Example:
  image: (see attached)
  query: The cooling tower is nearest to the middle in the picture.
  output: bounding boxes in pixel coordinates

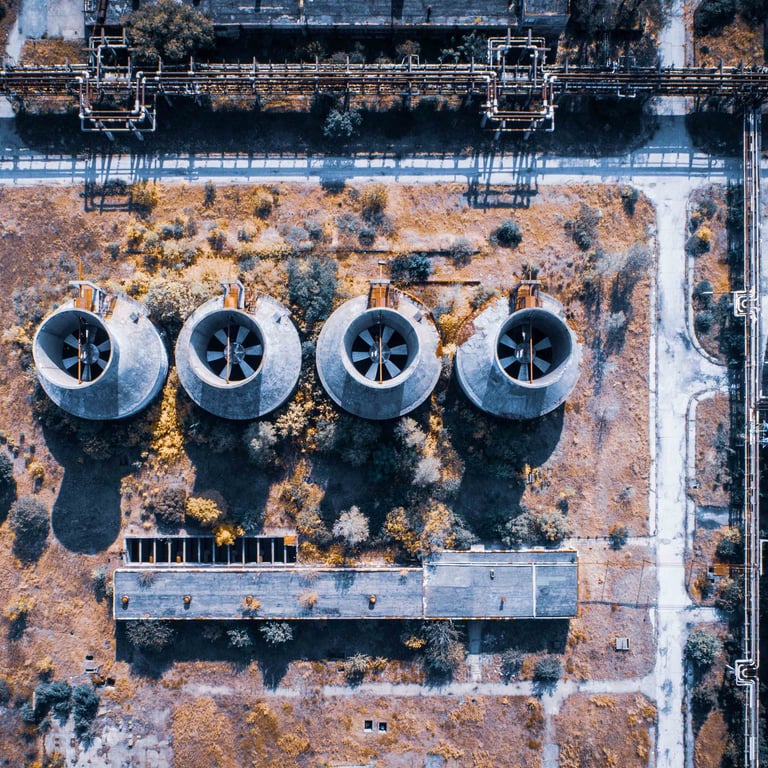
[319,262,445,419]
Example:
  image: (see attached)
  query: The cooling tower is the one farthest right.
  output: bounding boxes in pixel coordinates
[456,262,582,419]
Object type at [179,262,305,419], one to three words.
cooling tower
